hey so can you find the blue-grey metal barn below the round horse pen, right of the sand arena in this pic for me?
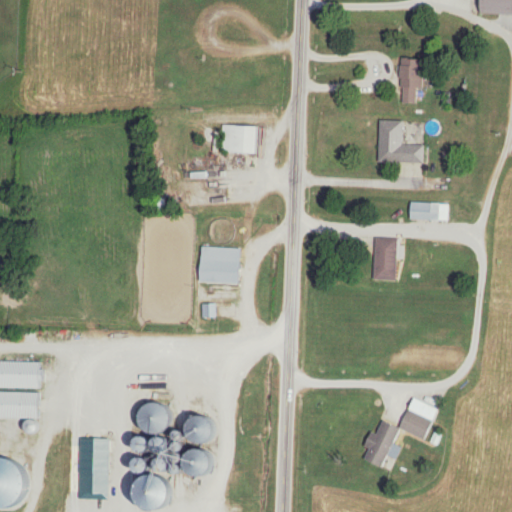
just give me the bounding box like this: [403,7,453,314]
[199,246,243,285]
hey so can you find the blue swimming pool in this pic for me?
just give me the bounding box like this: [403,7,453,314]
[426,120,440,135]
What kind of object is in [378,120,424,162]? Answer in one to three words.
house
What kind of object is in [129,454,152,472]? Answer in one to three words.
silo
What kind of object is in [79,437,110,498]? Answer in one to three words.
shed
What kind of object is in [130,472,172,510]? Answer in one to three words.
silo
